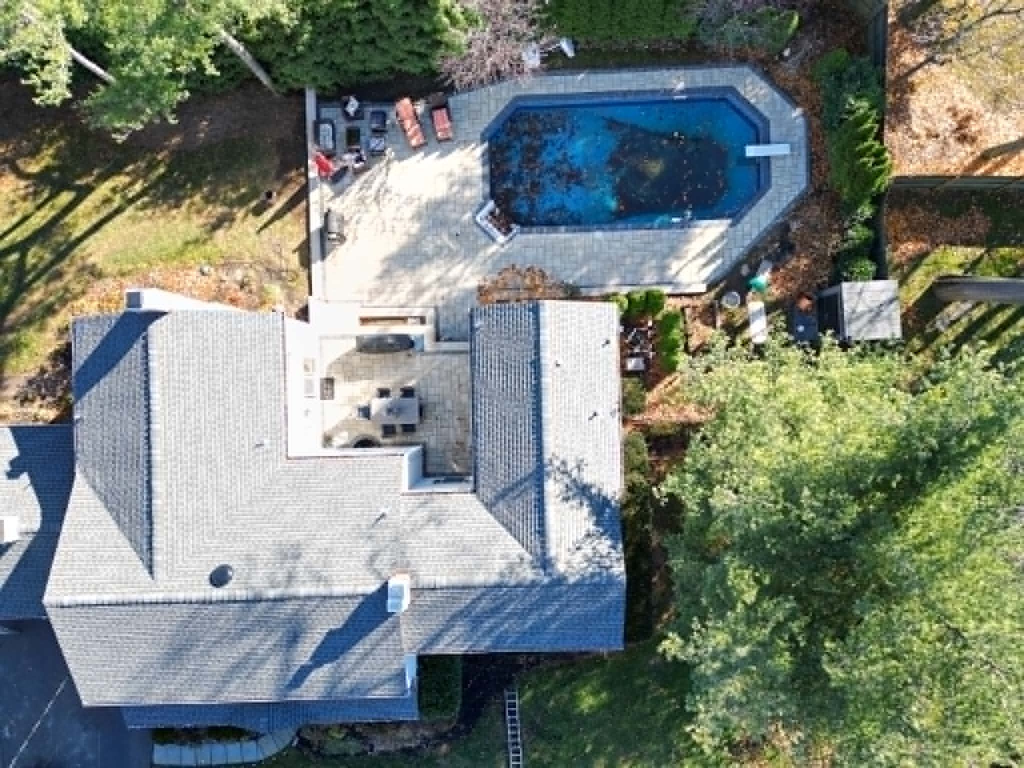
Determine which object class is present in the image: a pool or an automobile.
pool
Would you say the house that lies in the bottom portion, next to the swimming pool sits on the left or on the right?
left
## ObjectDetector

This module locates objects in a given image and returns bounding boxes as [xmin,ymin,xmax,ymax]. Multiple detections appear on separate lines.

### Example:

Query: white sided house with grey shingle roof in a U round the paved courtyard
[38,286,633,731]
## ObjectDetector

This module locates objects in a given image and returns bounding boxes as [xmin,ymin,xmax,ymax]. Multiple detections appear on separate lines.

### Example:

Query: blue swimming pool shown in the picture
[475,82,772,244]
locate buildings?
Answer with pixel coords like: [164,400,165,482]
[38,286,633,731]
[817,279,902,344]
